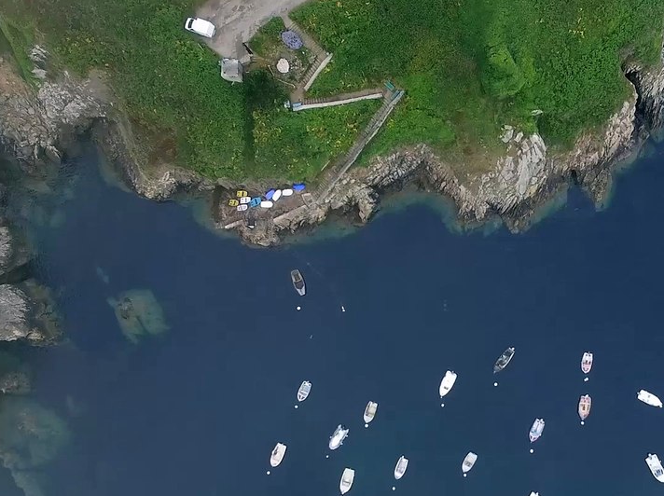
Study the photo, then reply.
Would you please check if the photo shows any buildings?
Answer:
No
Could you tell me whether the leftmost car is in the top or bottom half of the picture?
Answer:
top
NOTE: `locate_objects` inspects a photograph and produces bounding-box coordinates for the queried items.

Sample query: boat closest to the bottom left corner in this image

[269,442,287,472]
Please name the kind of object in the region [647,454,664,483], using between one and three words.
boat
